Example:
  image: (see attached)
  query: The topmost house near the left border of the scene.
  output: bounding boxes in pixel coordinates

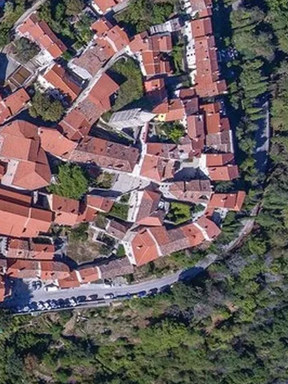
[11,15,67,62]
